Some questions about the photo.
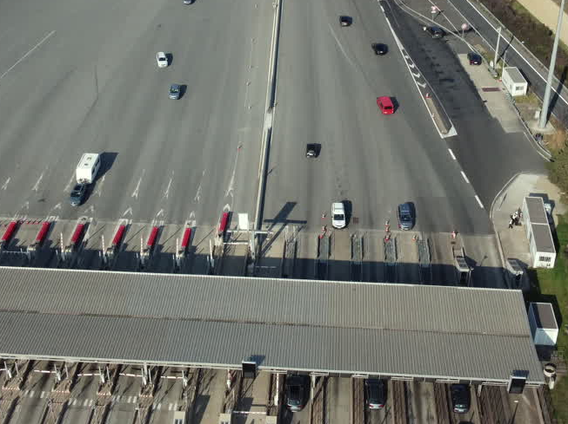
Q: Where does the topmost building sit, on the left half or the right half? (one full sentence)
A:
The topmost building is on the right side of the image.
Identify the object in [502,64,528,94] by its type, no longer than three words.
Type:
building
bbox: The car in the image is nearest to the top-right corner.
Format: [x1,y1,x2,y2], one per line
[467,53,481,66]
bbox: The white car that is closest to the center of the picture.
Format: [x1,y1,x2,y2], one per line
[330,204,346,228]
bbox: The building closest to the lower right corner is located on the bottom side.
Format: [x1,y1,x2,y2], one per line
[526,295,558,342]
